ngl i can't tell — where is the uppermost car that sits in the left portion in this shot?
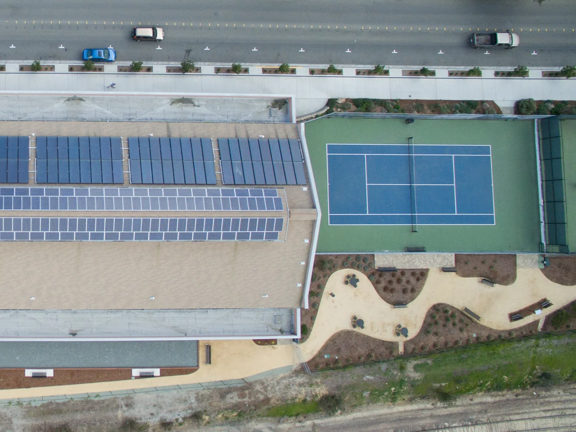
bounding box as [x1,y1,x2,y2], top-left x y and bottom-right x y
[131,26,164,42]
